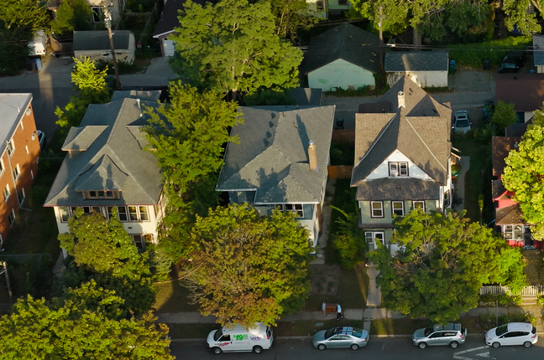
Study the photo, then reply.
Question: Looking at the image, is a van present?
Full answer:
Yes, the frame does contain a van.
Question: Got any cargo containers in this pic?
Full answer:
No, no cargo container is visible in the scene.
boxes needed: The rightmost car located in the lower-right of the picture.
[485,322,538,348]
